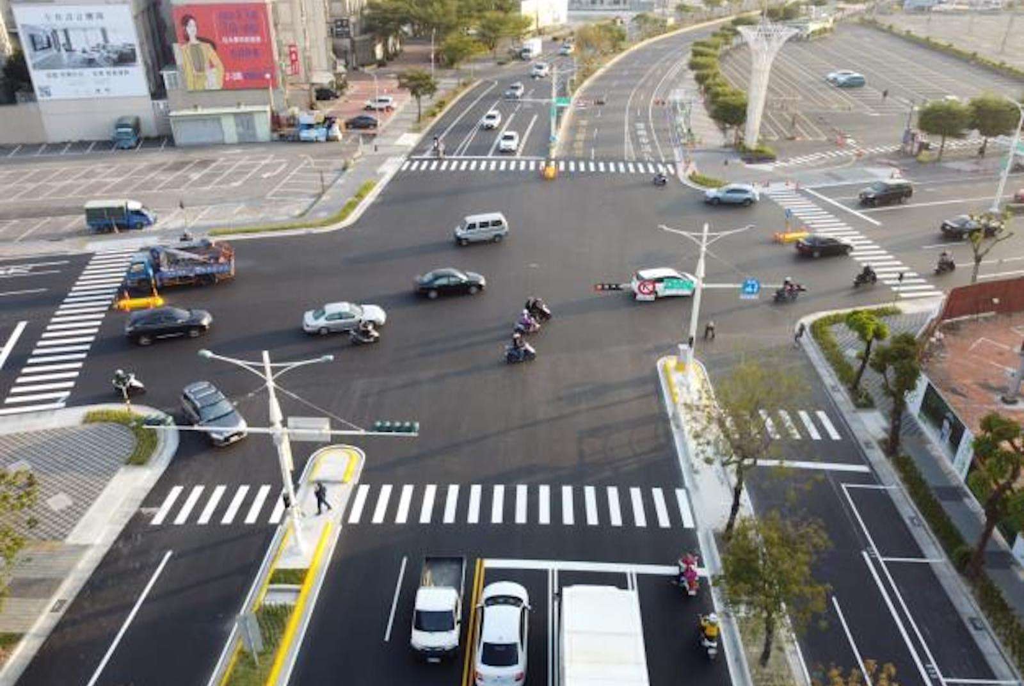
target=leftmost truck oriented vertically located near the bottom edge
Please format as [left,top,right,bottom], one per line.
[399,551,467,672]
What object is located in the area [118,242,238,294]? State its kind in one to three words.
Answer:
truck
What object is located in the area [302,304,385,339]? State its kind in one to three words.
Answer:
car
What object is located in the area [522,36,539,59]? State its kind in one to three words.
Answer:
vehicle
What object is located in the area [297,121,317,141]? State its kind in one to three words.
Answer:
vehicle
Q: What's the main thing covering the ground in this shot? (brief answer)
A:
paved ground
